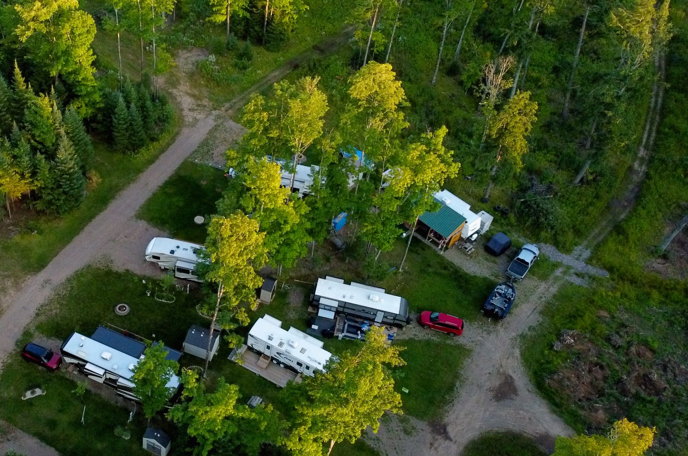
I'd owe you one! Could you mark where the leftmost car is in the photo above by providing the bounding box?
[20,339,66,373]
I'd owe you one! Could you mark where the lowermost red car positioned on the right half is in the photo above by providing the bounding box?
[417,309,468,338]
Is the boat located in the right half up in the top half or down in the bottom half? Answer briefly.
bottom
